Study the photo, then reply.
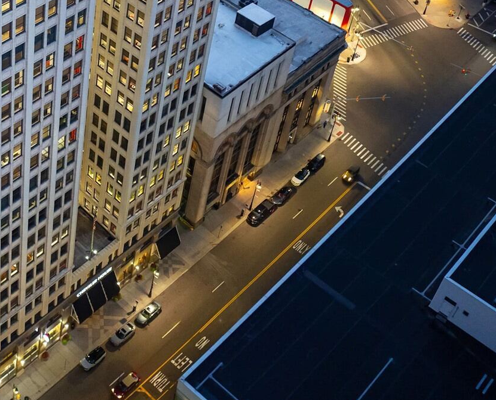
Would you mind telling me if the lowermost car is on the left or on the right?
left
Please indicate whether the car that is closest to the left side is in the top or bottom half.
bottom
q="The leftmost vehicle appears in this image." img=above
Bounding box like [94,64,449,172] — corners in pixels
[79,346,107,372]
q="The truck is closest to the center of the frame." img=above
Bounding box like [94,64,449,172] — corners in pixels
[250,201,275,225]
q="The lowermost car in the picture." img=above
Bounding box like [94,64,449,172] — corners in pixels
[111,370,139,398]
